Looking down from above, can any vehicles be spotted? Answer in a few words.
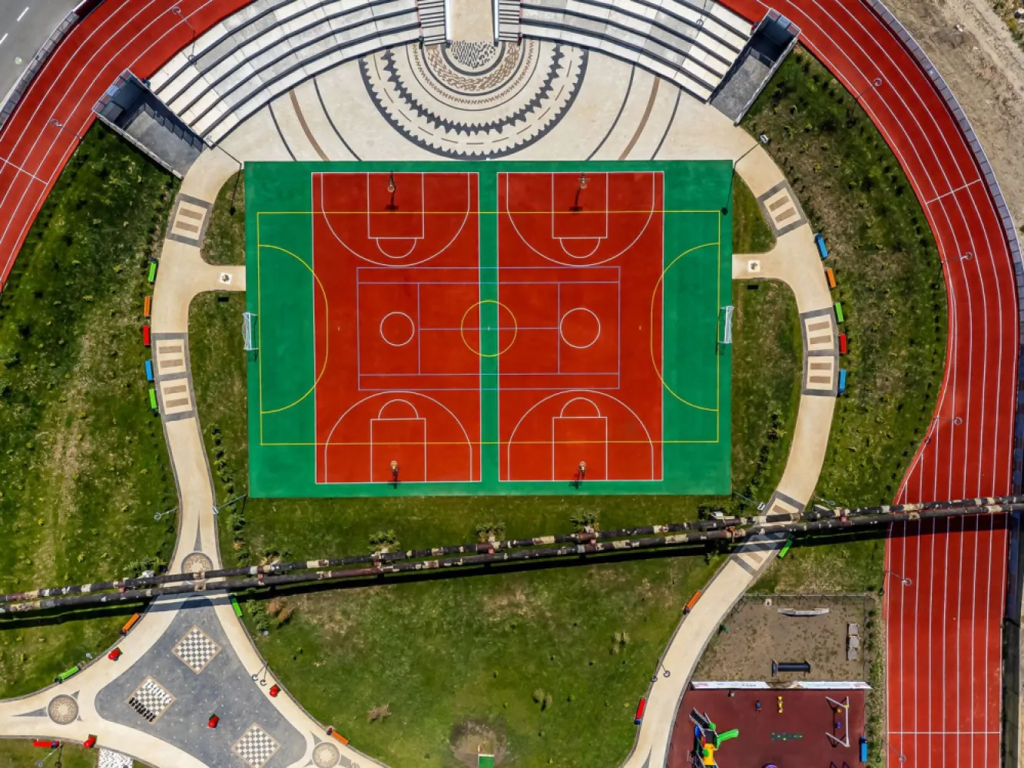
No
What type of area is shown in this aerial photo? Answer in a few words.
sports ground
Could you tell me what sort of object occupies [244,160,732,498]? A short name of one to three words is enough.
sports court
